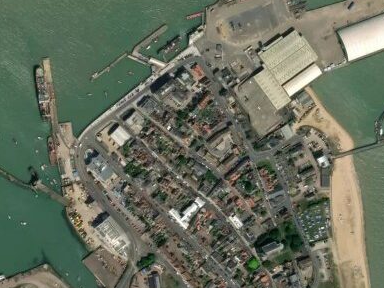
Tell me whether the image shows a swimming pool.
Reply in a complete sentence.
No, I find no swimming pool anywhere in the image.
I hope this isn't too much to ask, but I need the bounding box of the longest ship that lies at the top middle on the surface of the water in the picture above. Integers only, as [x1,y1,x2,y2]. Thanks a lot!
[158,37,182,55]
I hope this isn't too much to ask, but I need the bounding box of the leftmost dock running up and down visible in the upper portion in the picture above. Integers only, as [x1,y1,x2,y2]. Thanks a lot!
[43,57,59,130]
